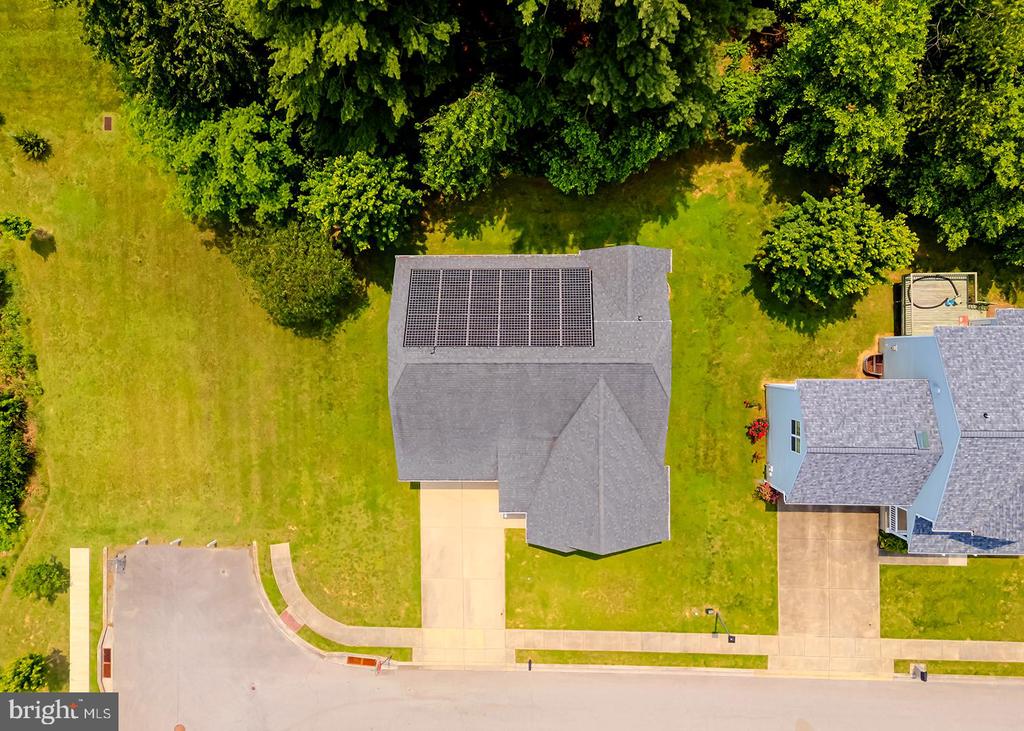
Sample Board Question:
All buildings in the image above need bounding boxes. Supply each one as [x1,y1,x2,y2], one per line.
[765,309,1024,554]
[389,244,672,554]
